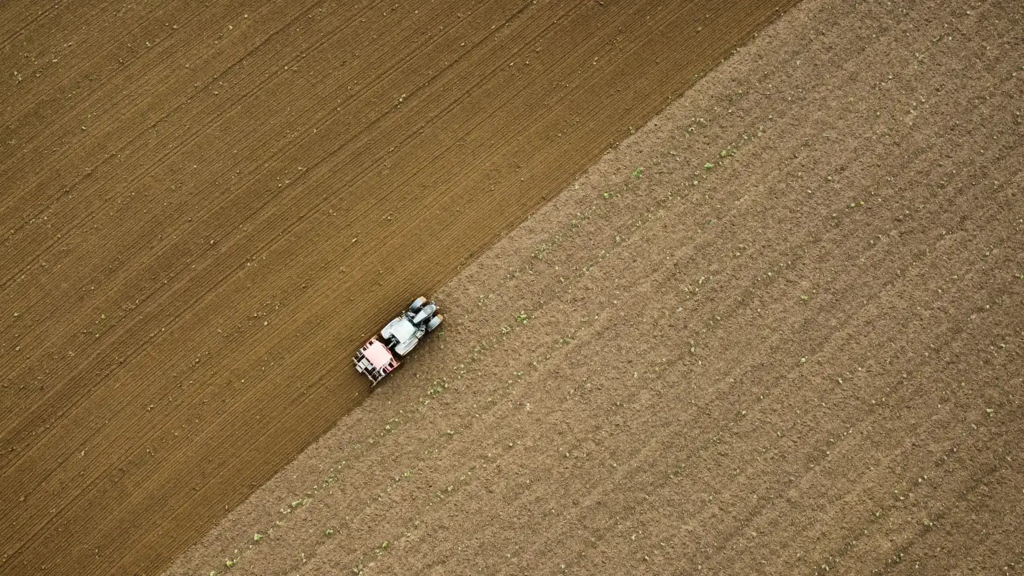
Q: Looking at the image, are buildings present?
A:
No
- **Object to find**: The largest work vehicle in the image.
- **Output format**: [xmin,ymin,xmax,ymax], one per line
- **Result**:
[380,296,443,356]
